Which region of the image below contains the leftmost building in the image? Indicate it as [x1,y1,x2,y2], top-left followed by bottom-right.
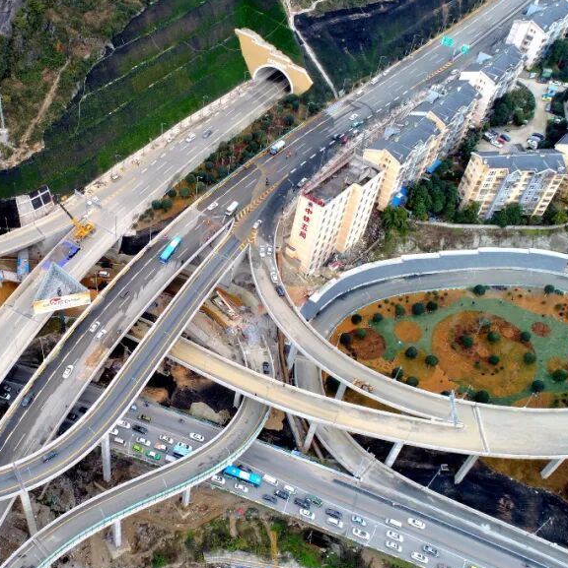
[292,156,382,264]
